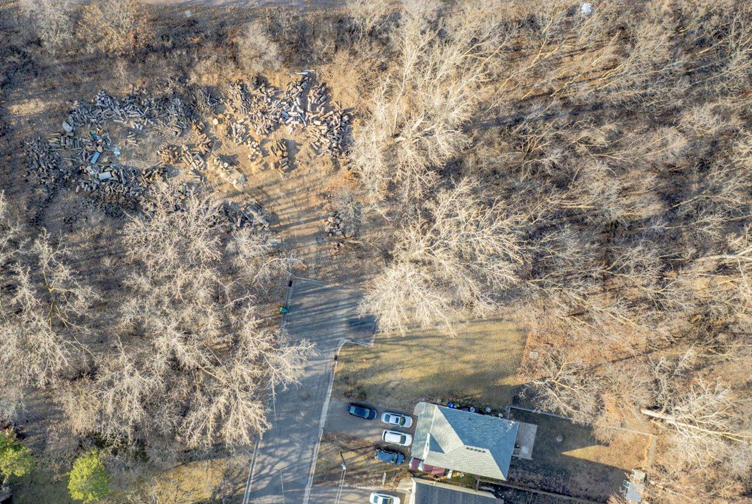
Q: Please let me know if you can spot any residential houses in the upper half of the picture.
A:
No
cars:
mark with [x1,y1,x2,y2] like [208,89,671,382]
[374,448,405,466]
[346,403,378,421]
[380,412,413,429]
[369,493,398,504]
[381,430,412,447]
